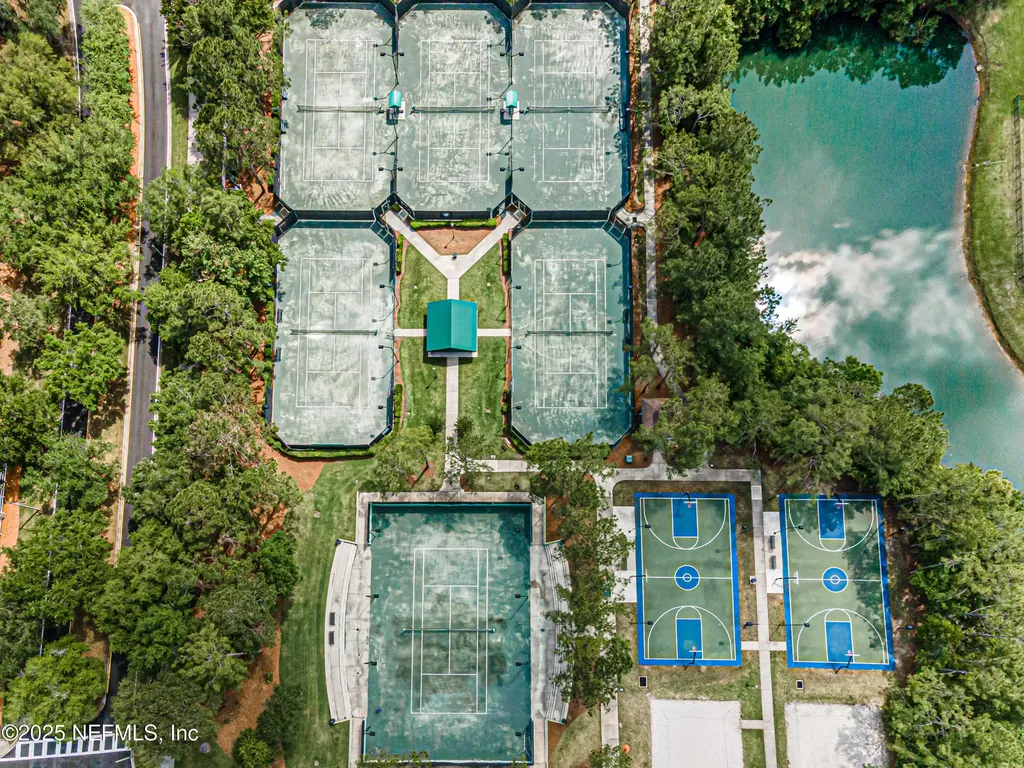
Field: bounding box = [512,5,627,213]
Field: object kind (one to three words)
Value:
tennis court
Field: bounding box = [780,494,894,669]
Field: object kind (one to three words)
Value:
basketball court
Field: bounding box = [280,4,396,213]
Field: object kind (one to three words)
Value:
tennis court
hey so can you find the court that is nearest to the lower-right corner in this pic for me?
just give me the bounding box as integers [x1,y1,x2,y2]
[785,704,886,768]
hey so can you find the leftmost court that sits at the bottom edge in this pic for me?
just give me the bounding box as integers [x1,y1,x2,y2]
[365,505,534,762]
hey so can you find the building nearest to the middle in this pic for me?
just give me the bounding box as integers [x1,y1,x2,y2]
[427,300,478,357]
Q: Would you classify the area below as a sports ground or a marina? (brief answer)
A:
sports ground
